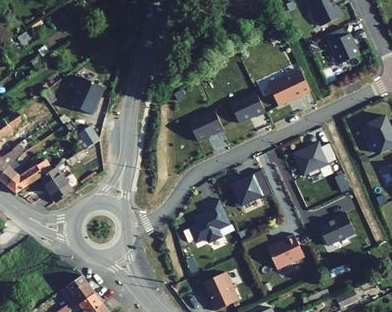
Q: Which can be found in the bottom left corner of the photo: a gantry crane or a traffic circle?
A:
traffic circle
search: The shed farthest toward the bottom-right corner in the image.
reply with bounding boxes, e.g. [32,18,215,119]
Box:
[334,284,378,310]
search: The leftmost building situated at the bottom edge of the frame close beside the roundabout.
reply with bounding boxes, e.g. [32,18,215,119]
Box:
[55,275,94,308]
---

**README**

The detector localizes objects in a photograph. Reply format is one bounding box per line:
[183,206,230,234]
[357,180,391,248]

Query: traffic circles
[64,193,138,267]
